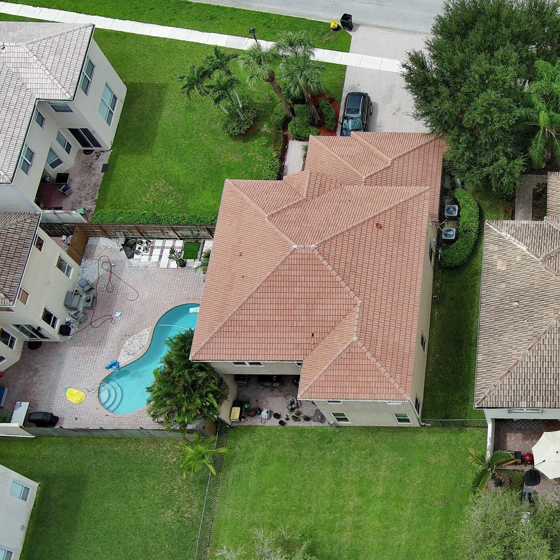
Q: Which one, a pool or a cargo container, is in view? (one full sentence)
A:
Visible in the photo is a pool.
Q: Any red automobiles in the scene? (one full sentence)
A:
No, no red automobile is visible in the scene.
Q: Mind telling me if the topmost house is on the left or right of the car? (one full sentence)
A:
In the image, the topmost house sits on the left side of the car.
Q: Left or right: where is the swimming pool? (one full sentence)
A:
The swimming pool sits on the left side.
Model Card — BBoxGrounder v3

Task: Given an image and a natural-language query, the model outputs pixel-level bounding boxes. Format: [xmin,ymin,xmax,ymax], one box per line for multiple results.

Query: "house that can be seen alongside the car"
[189,131,445,428]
